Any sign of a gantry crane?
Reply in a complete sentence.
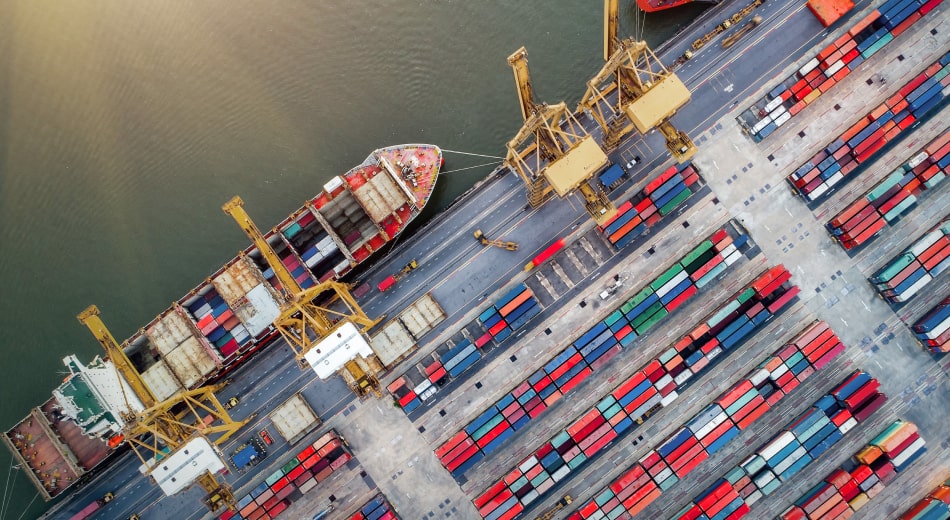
Yes, there's a gantry crane down there.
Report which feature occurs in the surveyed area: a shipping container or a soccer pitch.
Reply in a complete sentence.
Looking from above, you can make out a shipping container.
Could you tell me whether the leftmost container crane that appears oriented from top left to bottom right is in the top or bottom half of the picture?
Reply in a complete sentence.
The leftmost container crane that appears oriented from top left to bottom right sits in the bottom half of the picture.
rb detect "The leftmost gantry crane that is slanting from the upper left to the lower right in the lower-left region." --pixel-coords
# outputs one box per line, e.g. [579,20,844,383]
[79,299,253,516]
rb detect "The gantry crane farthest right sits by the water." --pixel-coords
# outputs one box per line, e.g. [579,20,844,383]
[576,0,702,166]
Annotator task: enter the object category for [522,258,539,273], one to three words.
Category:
vehicle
